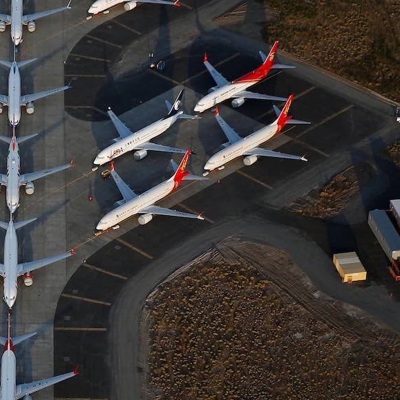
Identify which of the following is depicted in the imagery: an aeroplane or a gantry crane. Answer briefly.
aeroplane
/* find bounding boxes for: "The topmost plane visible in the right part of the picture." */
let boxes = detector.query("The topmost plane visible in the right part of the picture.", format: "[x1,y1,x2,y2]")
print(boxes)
[195,40,295,115]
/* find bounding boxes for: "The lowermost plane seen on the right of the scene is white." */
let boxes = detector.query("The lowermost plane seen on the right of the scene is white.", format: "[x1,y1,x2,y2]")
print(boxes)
[204,94,310,173]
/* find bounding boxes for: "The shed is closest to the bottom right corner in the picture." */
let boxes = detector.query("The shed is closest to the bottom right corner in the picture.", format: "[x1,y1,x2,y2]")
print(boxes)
[334,252,368,283]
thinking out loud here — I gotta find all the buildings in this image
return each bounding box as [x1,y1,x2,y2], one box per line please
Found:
[390,198,400,225]
[334,252,368,283]
[371,209,400,259]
